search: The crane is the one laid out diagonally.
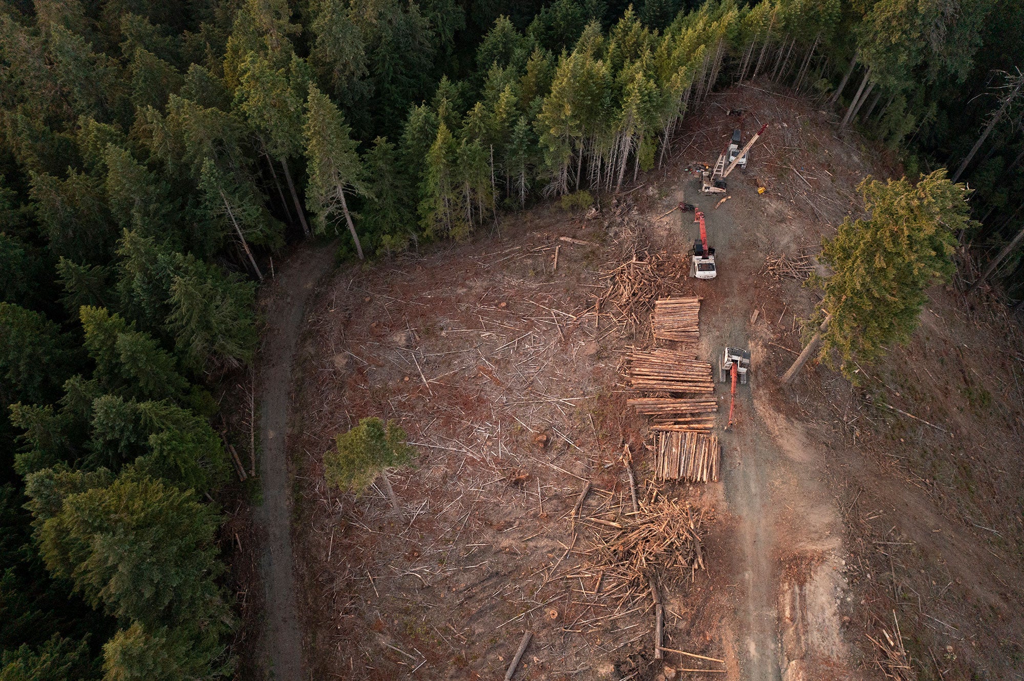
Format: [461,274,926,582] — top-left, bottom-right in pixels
[697,123,768,194]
